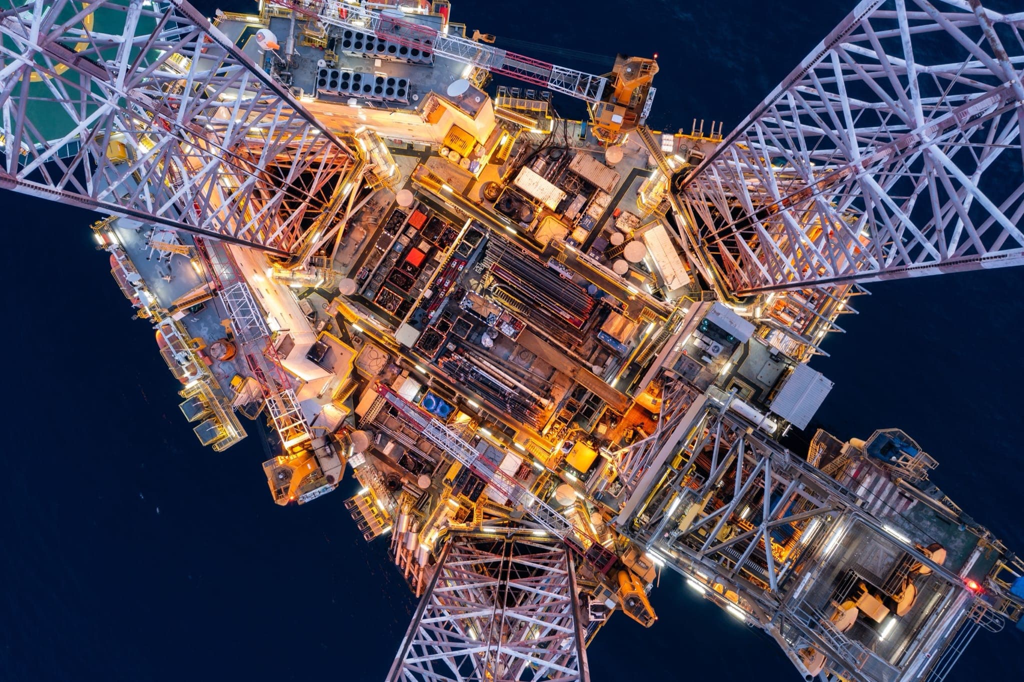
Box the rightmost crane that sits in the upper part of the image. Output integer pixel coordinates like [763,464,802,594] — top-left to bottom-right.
[266,0,662,140]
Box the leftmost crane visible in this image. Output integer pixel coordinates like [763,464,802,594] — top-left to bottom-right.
[146,80,351,509]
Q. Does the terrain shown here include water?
Yes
